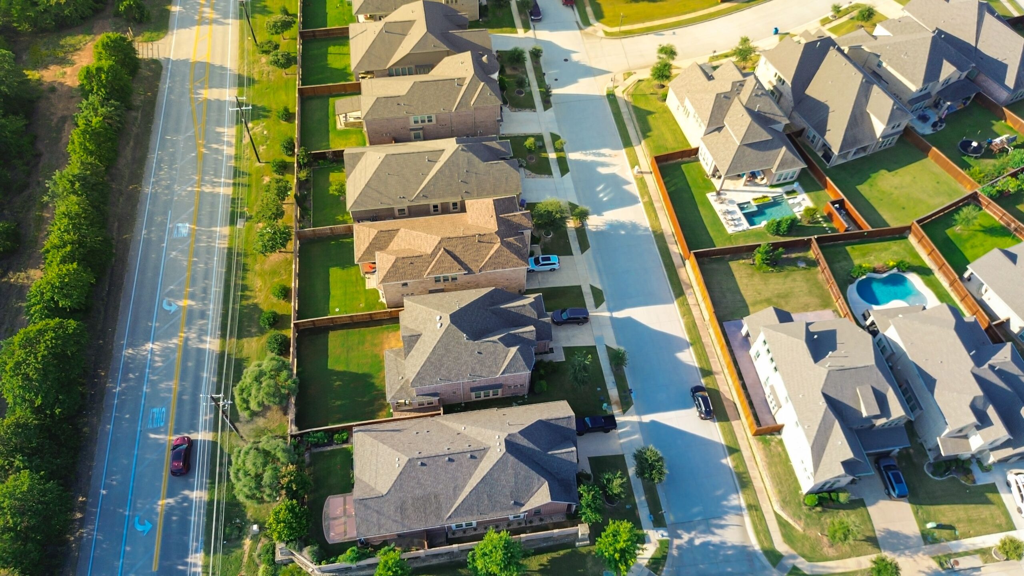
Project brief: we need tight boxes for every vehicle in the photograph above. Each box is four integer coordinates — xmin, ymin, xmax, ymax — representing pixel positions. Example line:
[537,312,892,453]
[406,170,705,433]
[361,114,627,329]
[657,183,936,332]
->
[999,471,1024,513]
[528,254,563,274]
[577,413,621,438]
[551,306,590,328]
[876,458,911,499]
[690,386,716,423]
[527,0,543,20]
[170,437,193,477]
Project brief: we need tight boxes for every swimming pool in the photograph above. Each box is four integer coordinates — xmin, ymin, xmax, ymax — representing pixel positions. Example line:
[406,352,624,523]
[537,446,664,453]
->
[848,268,943,326]
[707,181,809,233]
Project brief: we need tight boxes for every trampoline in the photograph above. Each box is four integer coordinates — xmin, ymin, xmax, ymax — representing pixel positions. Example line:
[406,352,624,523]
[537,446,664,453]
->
[958,130,990,157]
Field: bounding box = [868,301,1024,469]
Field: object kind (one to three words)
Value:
house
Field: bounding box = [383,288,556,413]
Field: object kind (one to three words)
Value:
house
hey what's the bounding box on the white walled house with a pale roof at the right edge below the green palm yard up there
[963,241,1024,344]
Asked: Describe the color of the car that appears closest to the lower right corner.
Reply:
white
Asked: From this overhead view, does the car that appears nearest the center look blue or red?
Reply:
blue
